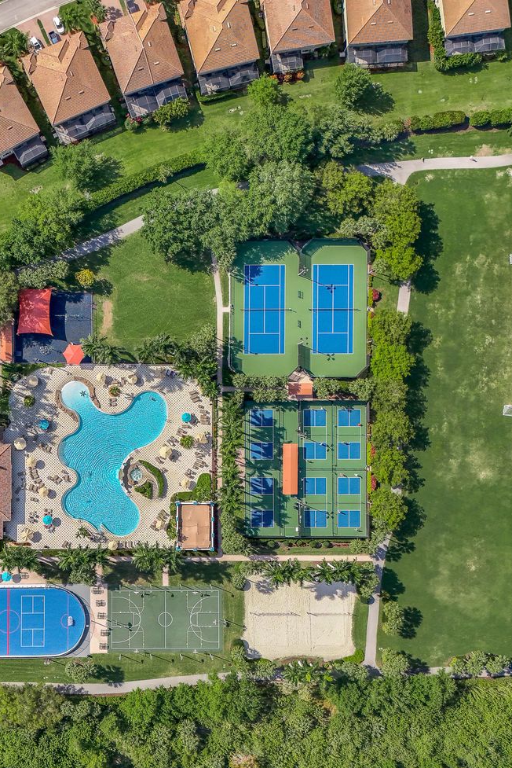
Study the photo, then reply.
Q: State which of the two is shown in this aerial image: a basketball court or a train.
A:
basketball court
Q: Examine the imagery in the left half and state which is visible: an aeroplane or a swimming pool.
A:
swimming pool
